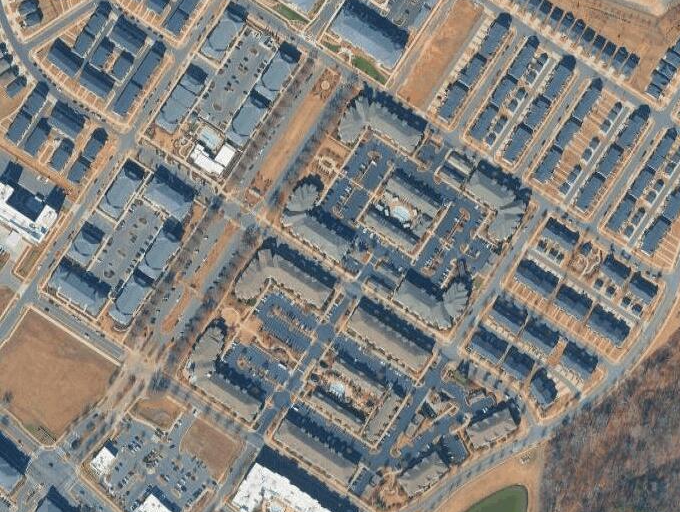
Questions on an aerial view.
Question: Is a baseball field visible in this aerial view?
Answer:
No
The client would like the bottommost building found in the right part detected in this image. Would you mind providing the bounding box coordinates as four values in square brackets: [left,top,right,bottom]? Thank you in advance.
[399,455,449,498]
